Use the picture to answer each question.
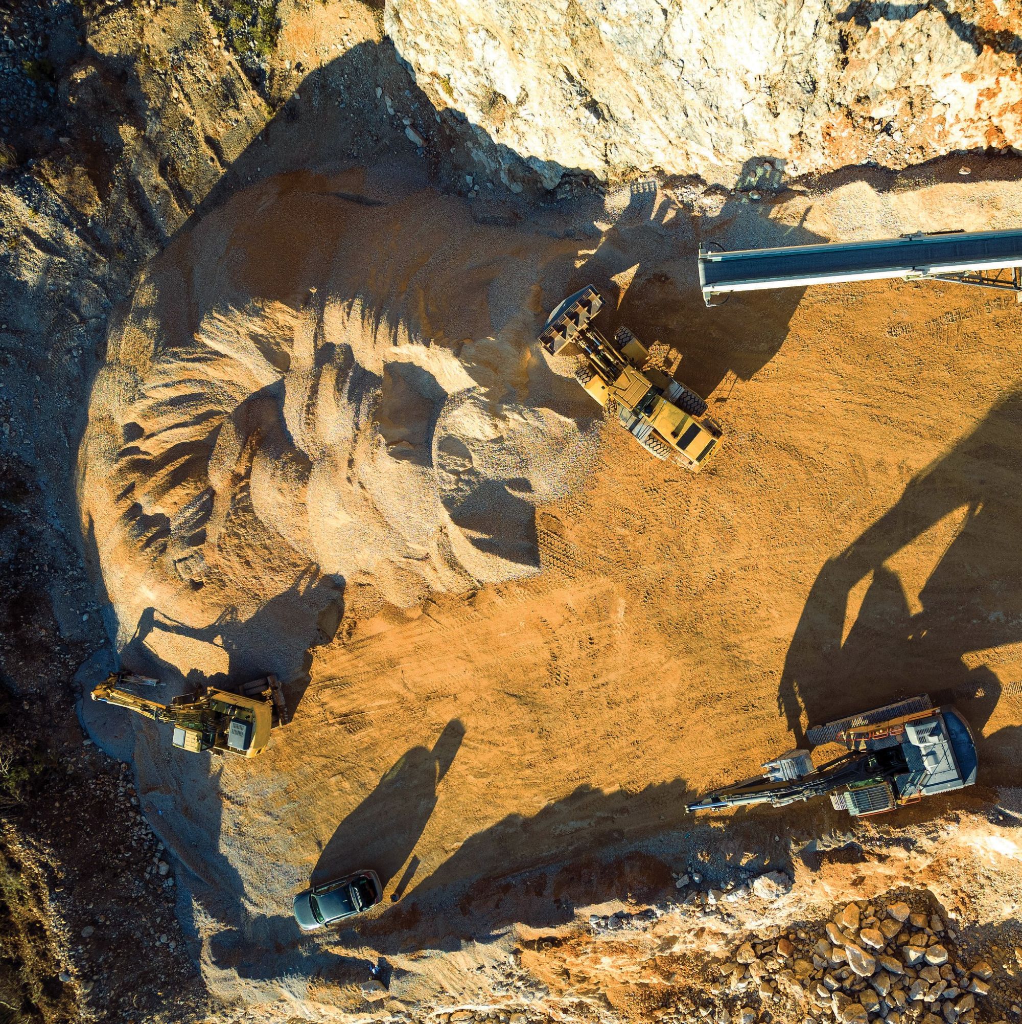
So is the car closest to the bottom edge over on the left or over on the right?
left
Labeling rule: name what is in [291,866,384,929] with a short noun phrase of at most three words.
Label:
car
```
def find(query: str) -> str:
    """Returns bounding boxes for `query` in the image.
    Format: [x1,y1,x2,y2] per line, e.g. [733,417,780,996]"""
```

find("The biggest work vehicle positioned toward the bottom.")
[681,690,979,819]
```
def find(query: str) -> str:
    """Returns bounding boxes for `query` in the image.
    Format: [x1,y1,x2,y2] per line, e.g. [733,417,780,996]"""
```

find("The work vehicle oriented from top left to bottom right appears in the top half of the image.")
[533,289,724,476]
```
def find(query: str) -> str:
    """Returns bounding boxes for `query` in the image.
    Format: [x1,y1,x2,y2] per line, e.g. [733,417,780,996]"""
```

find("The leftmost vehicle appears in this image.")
[99,669,294,757]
